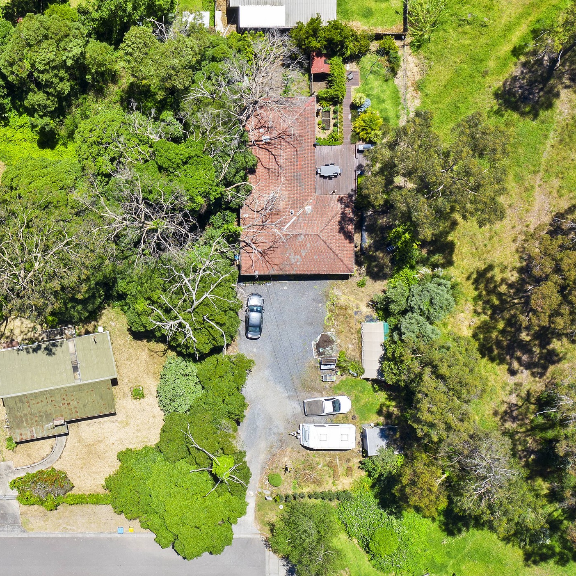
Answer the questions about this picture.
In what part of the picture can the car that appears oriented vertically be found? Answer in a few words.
center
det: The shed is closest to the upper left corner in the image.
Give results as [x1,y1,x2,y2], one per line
[181,11,209,33]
